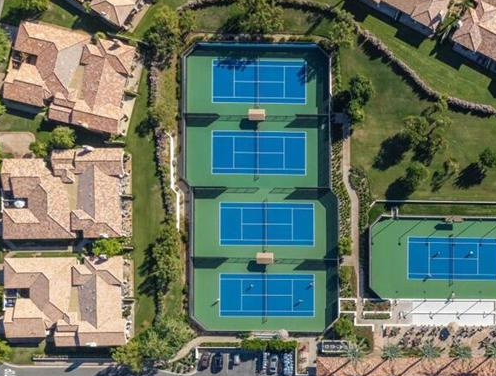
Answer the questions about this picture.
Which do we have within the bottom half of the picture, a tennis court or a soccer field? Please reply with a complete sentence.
There is a tennis court within the bottom half of the picture.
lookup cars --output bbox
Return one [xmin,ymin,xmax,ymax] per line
[213,352,223,372]
[269,353,278,371]
[199,352,209,370]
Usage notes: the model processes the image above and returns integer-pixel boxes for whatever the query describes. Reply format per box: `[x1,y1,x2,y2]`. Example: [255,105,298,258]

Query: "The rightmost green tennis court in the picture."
[373,218,496,300]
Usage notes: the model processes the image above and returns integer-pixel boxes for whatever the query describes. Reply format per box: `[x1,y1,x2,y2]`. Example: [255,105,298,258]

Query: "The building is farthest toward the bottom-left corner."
[0,256,130,346]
